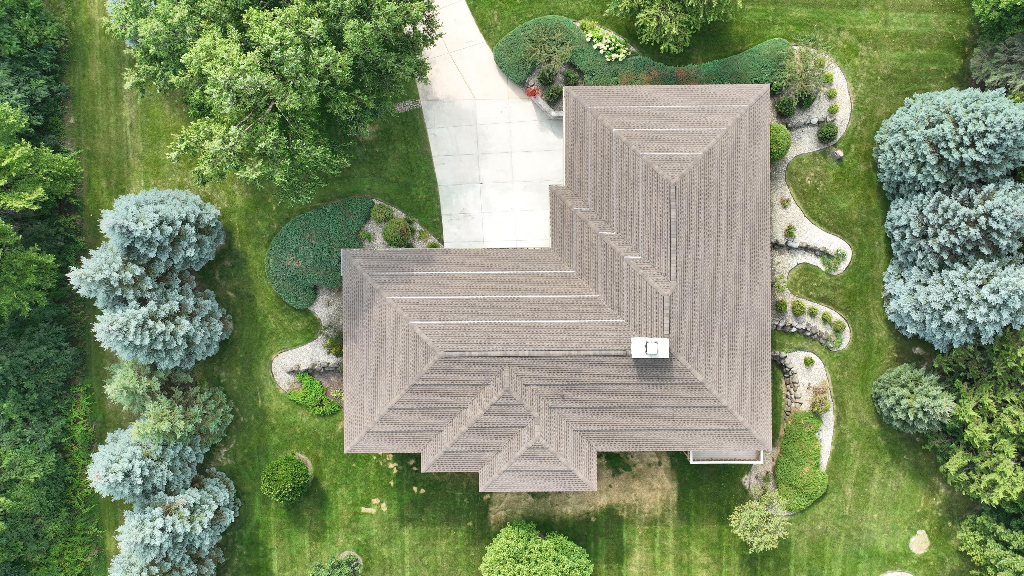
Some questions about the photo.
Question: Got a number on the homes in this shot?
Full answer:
I count just 1 home.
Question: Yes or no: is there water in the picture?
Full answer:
No, there's no water in this view.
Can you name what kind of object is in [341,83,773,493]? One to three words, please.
house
